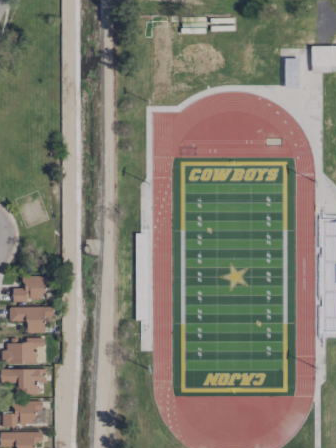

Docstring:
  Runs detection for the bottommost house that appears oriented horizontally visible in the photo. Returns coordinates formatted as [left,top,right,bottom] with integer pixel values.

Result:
[0,432,42,448]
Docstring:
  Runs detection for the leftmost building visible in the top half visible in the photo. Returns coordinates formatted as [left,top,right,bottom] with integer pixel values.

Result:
[285,57,300,88]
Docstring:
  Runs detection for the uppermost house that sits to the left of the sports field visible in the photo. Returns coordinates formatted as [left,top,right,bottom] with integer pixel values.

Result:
[12,276,44,302]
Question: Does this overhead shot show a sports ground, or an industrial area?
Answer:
sports ground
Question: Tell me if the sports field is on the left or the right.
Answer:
right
